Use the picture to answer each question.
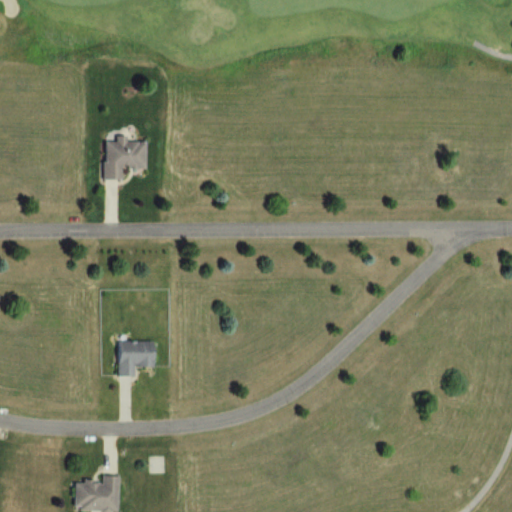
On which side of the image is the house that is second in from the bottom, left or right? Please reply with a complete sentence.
The house that is second in from the bottom is on the left side of the image.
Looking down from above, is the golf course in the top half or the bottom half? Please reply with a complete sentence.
Seen from above, the golf course lies in the top half of the view.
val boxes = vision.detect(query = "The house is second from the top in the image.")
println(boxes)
[118,342,157,376]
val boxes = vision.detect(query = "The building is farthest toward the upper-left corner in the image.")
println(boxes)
[104,136,147,178]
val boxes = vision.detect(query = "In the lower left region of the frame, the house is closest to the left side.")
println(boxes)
[76,476,120,512]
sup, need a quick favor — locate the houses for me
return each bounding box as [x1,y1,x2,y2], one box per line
[104,136,147,178]
[76,476,120,512]
[118,342,157,376]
